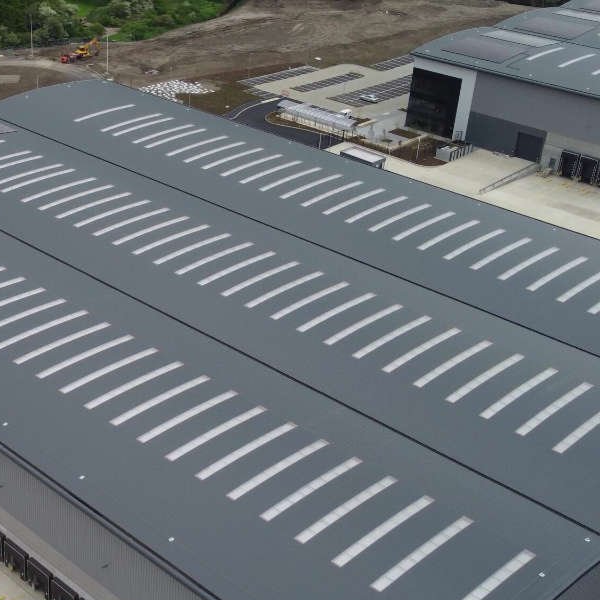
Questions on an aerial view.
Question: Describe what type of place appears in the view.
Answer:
industrial area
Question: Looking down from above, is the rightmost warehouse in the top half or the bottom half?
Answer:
top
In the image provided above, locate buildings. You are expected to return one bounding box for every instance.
[0,77,600,600]
[403,0,600,187]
